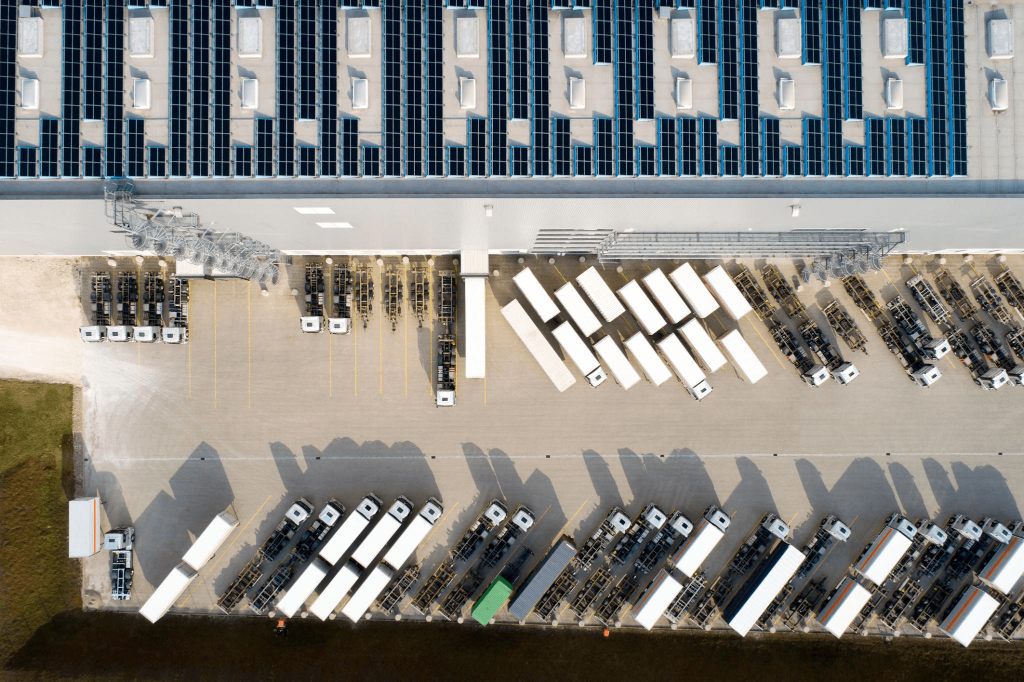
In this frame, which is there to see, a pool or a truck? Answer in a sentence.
Of the two, only a truck appears.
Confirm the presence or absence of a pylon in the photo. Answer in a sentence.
No, there's no pylon here.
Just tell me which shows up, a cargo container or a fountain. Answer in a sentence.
I can see a cargo container in this picture.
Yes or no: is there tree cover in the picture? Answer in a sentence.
No, there is no tree cover in the image.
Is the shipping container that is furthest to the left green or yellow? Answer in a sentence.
The color of the shipping container that is furthest to the left is green.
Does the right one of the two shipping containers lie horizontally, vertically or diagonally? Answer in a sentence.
The right one of the two shipping containers is oriented diagonally.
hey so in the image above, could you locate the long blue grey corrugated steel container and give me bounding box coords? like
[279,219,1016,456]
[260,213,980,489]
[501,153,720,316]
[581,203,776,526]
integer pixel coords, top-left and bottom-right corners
[509,536,576,620]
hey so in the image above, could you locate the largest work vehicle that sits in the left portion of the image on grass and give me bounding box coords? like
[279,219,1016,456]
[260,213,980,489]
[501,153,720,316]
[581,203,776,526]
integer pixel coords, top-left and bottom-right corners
[275,621,287,638]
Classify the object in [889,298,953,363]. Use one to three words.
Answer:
truck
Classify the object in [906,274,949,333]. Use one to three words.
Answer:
trailer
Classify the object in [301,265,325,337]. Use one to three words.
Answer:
truck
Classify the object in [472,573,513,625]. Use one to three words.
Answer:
shipping container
